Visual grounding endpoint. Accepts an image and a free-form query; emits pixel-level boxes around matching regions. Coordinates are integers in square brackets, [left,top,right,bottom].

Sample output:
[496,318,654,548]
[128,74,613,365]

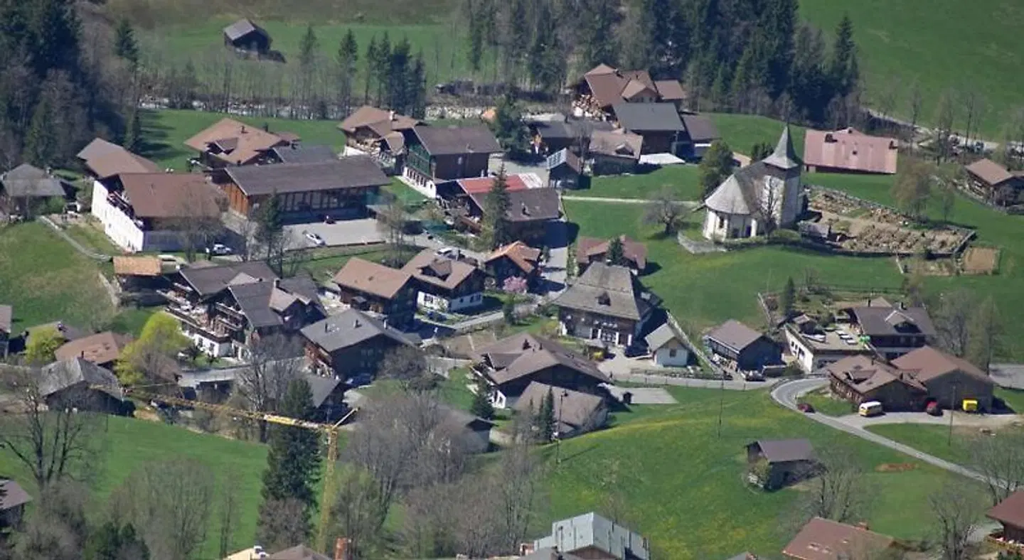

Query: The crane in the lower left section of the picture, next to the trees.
[125,387,360,560]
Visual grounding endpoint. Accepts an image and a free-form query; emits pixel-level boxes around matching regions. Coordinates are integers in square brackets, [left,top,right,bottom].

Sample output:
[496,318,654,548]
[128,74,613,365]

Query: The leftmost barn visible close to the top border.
[224,17,276,55]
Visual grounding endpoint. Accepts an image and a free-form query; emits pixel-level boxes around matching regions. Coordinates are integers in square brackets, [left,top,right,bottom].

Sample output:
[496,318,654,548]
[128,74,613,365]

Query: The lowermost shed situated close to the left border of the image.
[0,480,32,526]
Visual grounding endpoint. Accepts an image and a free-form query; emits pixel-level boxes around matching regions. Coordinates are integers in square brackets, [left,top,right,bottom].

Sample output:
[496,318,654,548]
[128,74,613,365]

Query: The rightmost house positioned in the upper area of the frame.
[965,158,1024,201]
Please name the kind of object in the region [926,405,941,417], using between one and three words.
vehicle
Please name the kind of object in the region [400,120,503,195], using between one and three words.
building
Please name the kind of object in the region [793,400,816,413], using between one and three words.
vehicle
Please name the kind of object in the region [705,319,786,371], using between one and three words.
house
